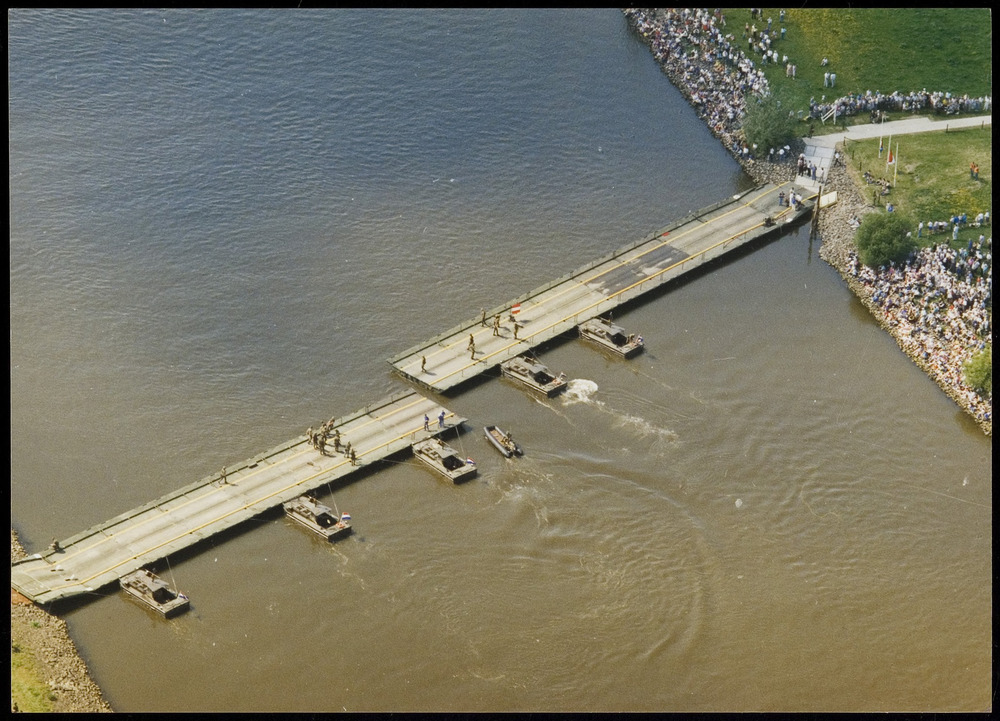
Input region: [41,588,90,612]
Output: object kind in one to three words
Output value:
pier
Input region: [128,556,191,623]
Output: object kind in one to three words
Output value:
boat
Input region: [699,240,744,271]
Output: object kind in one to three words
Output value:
pier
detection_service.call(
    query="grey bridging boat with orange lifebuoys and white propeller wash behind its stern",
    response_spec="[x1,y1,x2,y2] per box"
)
[505,352,567,401]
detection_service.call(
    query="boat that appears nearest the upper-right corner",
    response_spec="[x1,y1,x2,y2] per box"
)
[583,314,646,360]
